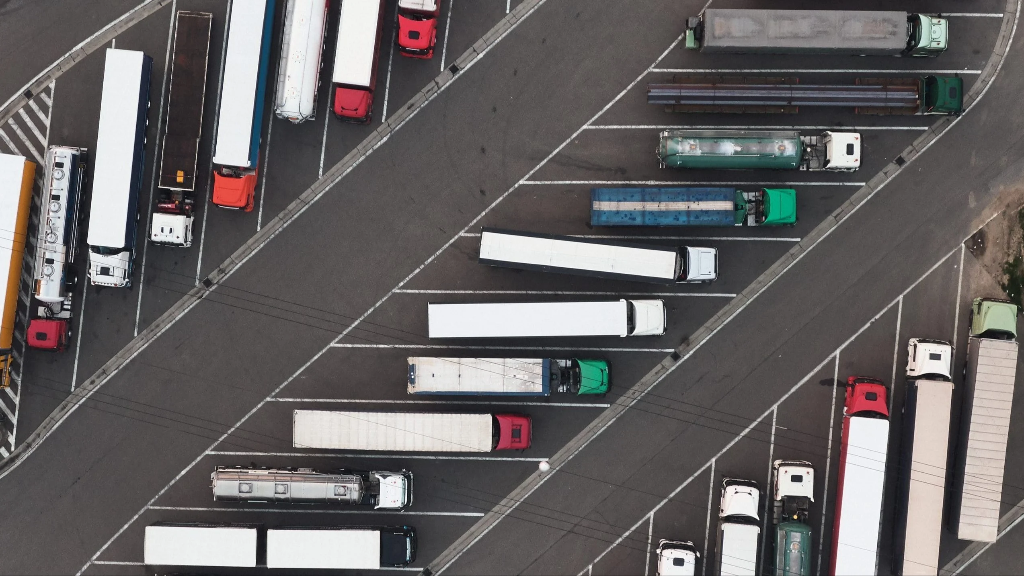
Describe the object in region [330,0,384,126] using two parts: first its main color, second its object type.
white truck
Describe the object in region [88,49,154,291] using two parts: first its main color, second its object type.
white truck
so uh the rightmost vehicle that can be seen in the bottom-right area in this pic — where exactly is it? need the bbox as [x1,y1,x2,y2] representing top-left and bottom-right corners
[946,298,1018,543]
